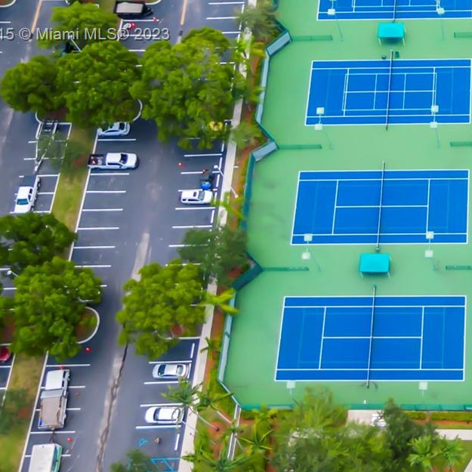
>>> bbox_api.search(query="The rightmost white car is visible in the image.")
[178,189,214,205]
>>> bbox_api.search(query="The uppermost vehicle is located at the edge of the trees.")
[112,1,153,18]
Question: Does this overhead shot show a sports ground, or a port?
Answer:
sports ground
